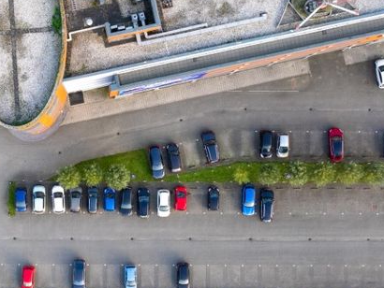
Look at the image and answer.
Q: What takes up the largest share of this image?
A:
paved ground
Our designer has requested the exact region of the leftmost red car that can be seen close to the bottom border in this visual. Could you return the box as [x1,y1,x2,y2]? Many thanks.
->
[20,265,36,288]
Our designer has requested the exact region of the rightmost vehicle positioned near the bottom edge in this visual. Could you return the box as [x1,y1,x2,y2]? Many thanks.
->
[176,262,191,288]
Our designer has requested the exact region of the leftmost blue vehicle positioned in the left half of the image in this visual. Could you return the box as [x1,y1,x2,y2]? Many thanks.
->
[13,186,27,211]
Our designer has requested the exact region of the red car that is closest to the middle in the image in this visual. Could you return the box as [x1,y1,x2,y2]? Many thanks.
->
[173,185,188,211]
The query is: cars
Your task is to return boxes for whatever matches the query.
[50,185,66,212]
[275,133,291,158]
[165,142,181,174]
[258,187,275,222]
[69,186,83,211]
[86,186,99,214]
[201,130,218,164]
[31,184,46,214]
[173,185,188,211]
[136,187,150,218]
[20,265,36,288]
[372,58,384,90]
[148,146,165,177]
[102,186,117,211]
[70,258,87,288]
[176,262,191,288]
[123,264,138,288]
[120,187,134,216]
[240,184,257,216]
[259,130,275,159]
[13,186,27,211]
[326,127,343,161]
[206,186,222,211]
[156,188,171,218]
